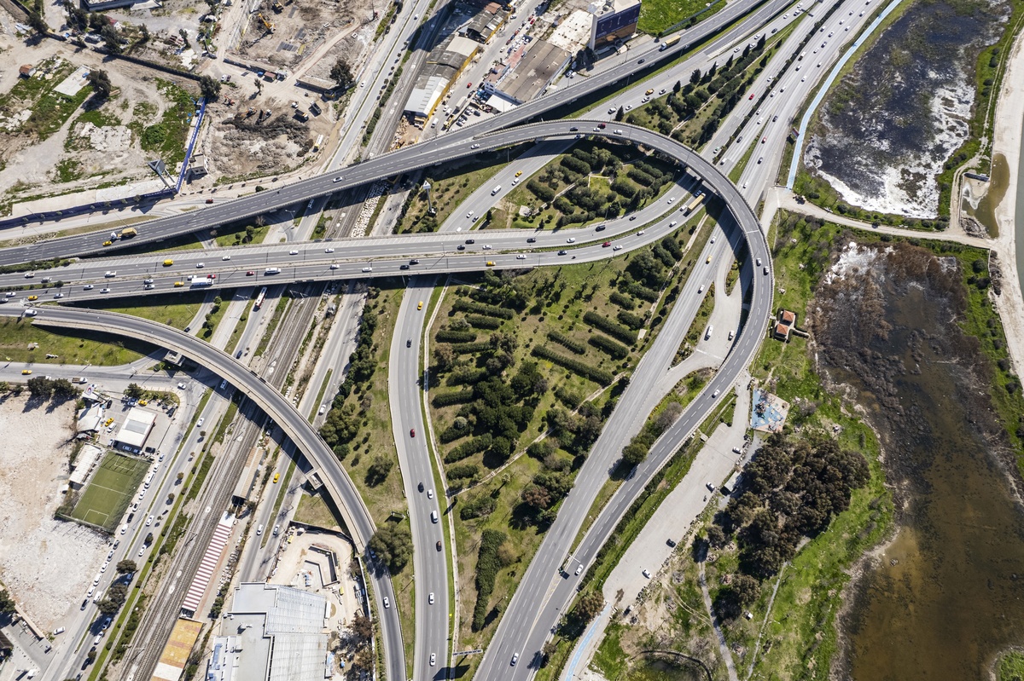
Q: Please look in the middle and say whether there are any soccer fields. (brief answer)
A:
No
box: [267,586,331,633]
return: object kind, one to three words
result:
building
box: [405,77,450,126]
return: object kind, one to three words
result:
building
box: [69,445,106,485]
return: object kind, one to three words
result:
shed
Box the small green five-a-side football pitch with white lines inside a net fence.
[66,452,148,532]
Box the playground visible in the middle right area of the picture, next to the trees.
[752,389,789,432]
